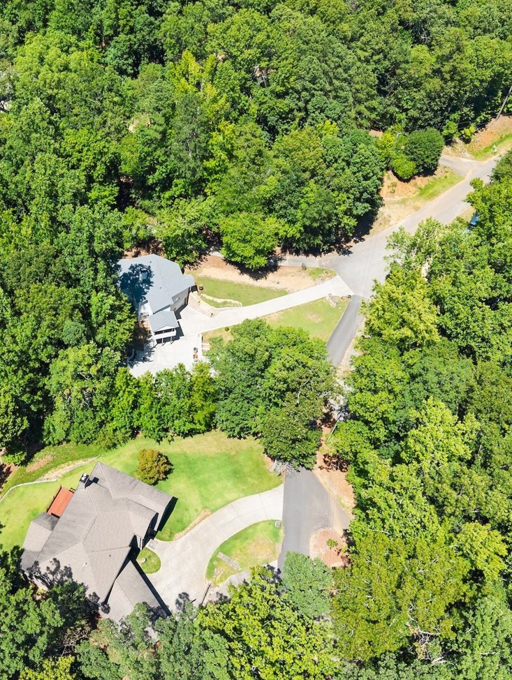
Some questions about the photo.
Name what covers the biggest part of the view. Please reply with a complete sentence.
The largest share of the image is taken up by trees.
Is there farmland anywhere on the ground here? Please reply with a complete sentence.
No, farmland can't be seen anywhere here.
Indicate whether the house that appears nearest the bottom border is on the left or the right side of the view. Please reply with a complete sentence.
You can find the house that appears nearest the bottom border on the left side of the picture.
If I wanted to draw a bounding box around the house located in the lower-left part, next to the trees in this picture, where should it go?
[20,462,172,629]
